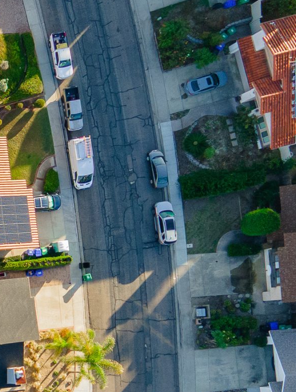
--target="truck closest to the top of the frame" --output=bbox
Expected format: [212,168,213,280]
[50,31,74,80]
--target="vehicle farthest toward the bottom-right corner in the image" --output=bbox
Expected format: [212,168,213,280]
[153,202,177,246]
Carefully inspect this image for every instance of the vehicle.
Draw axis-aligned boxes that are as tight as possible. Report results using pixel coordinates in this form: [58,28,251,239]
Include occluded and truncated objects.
[70,135,97,190]
[183,71,228,96]
[50,31,74,80]
[61,85,85,132]
[33,194,64,213]
[153,202,177,246]
[145,149,167,190]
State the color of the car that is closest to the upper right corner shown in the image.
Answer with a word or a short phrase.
blue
